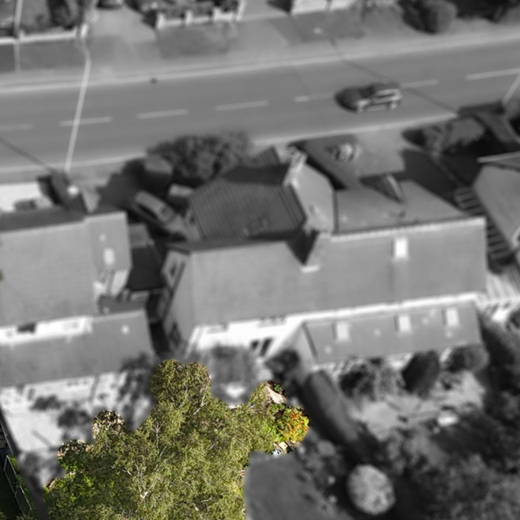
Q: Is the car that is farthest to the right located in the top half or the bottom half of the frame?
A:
top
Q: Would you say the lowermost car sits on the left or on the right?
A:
left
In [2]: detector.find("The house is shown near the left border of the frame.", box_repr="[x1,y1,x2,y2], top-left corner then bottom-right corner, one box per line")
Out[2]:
[0,173,154,404]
